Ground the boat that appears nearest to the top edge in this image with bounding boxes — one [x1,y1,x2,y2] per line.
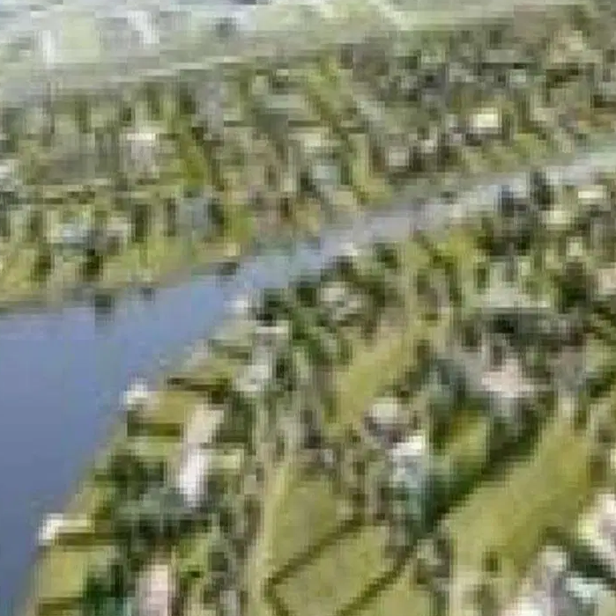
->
[219,257,241,271]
